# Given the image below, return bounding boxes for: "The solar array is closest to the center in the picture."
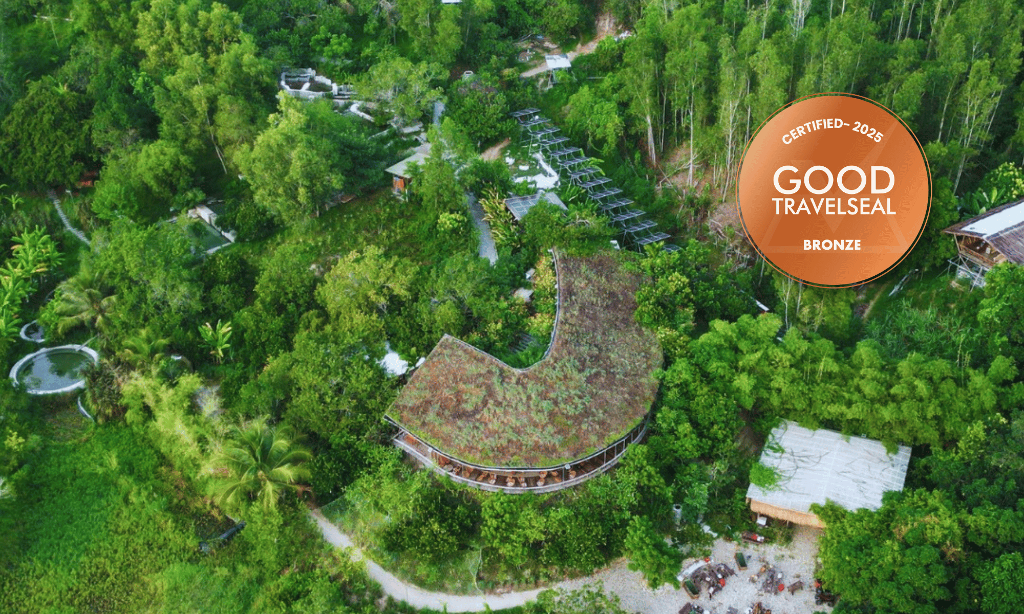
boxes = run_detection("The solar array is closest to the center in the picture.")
[509,197,544,213]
